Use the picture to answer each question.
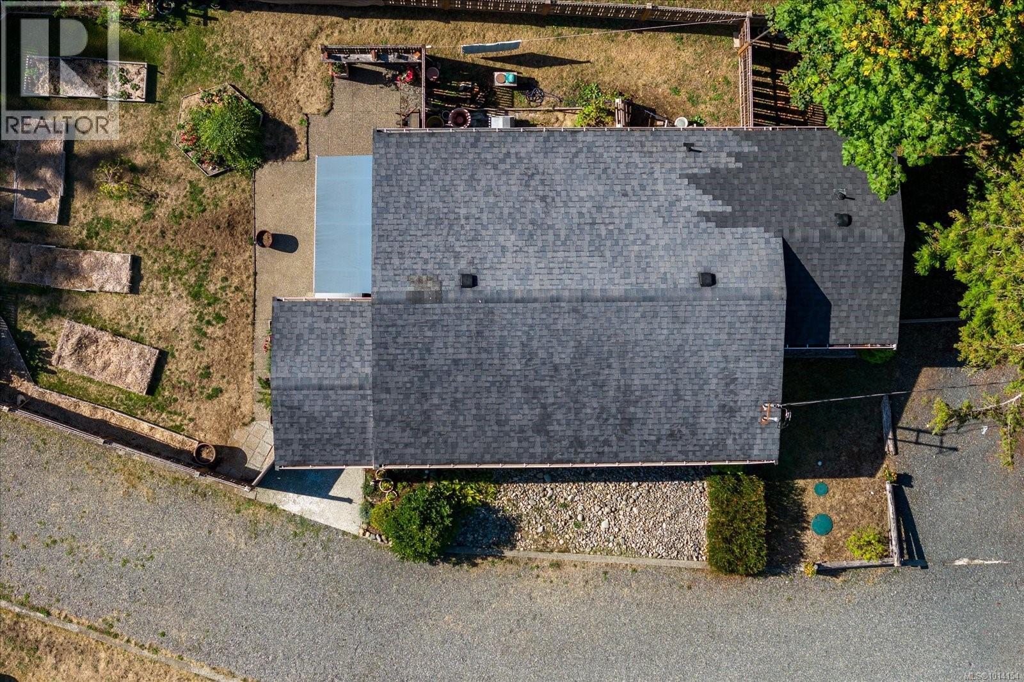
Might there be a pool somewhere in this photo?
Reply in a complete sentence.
No, no pool is visible in the scene.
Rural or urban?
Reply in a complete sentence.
From above, the setting appears urban.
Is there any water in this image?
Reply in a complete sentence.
No, the picture contains no water.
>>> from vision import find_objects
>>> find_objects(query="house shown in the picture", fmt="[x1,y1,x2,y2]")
[266,129,902,468]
